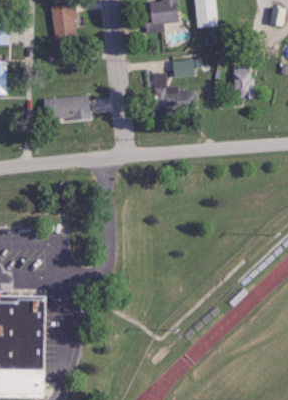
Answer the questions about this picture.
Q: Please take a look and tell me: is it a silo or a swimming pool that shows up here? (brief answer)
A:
swimming pool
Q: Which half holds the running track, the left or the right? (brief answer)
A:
right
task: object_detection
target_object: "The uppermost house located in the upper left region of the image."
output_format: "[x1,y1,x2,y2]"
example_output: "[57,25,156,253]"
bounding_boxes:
[50,7,80,38]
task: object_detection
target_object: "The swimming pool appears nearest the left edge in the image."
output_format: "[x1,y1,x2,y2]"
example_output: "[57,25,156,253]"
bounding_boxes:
[164,22,190,48]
